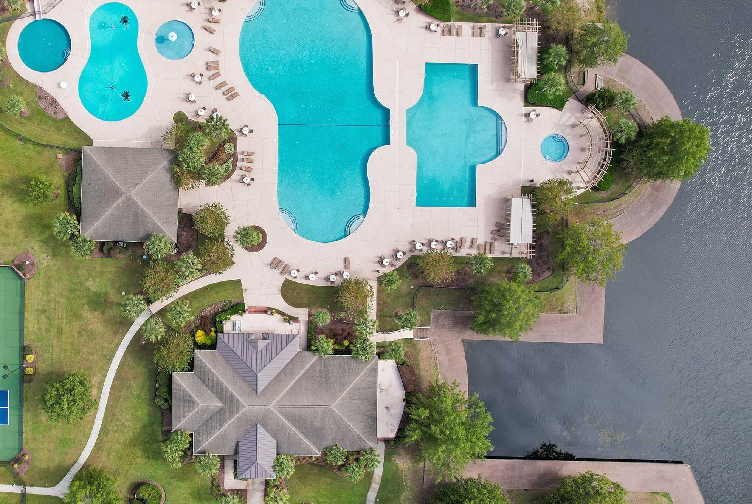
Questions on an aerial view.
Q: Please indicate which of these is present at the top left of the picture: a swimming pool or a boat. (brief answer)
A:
swimming pool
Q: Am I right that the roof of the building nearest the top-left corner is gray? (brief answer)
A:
Yes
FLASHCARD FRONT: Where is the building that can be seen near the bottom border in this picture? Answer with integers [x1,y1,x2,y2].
[171,333,378,479]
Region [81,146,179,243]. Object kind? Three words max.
building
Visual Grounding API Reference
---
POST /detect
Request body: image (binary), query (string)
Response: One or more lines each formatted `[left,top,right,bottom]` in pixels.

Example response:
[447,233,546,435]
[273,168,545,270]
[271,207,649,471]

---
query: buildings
[171,333,378,479]
[81,146,179,243]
